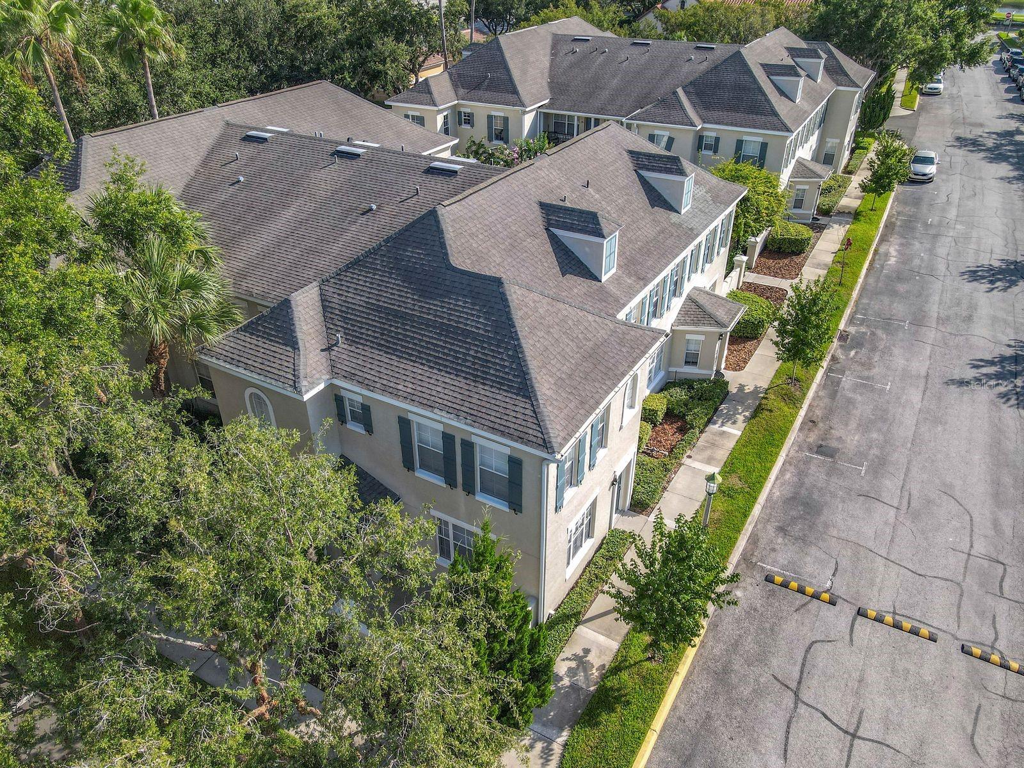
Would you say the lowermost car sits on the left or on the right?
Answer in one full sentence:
You can find the lowermost car on the right side of the picture.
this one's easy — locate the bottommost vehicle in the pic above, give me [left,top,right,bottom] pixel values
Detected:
[911,151,943,179]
